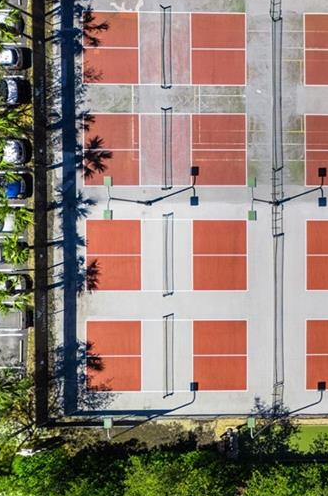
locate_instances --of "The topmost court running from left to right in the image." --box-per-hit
[82,12,246,85]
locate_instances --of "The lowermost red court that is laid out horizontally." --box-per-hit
[86,320,247,392]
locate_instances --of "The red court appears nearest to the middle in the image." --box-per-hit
[85,220,247,290]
